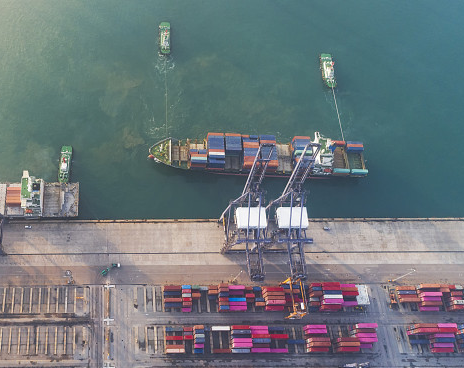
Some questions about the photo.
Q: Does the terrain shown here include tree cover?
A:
No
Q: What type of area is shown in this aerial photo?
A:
port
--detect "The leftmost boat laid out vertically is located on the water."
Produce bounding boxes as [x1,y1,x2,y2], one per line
[56,146,74,182]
